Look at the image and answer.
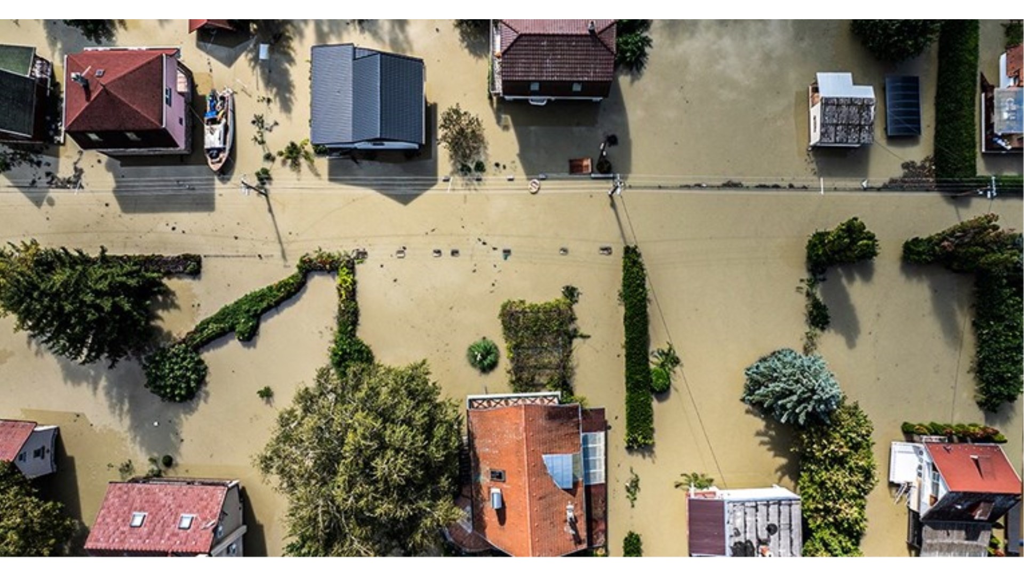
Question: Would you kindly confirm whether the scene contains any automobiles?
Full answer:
No, the scene contains no automobile.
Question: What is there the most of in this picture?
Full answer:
The scene is dominated by water.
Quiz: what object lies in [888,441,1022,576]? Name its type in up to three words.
house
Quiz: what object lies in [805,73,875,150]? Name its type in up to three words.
shed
